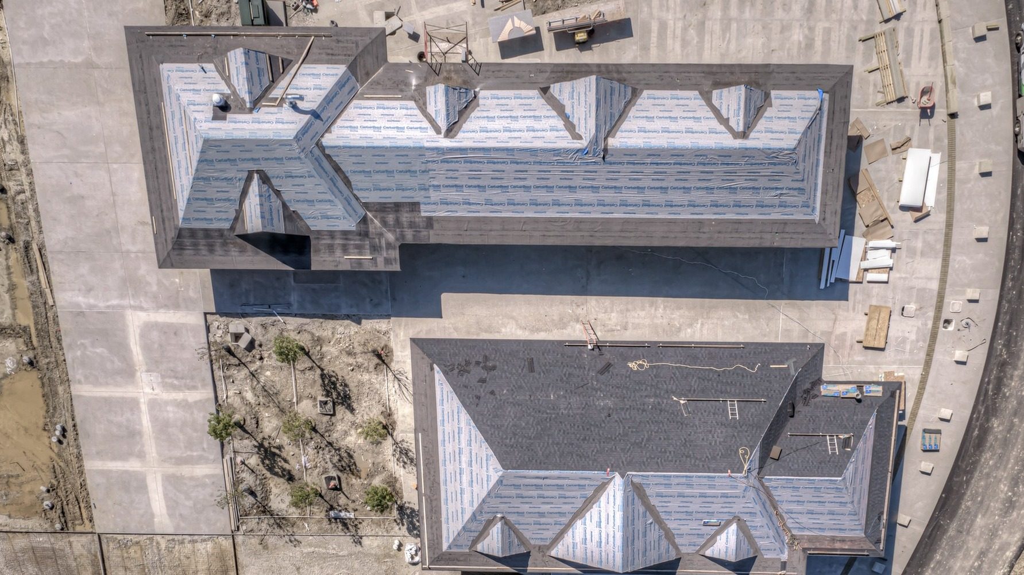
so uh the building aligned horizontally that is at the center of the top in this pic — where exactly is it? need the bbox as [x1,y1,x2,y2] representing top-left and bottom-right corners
[125,26,853,270]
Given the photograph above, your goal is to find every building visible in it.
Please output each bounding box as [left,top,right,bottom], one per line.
[125,26,853,270]
[411,338,901,575]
